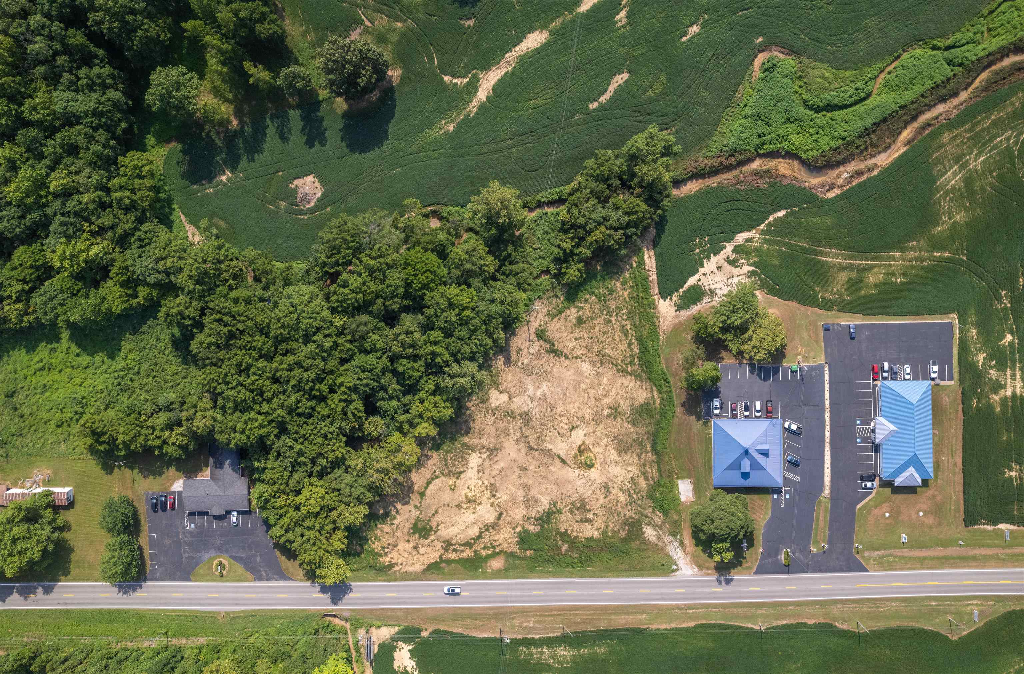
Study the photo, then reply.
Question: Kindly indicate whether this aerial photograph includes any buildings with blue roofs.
Yes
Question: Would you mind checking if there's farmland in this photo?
Yes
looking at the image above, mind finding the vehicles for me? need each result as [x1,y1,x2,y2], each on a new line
[754,401,762,417]
[928,360,938,379]
[870,364,879,380]
[150,495,159,511]
[848,324,856,340]
[730,403,738,417]
[742,400,750,416]
[232,511,239,526]
[444,586,461,594]
[168,495,176,509]
[903,365,910,380]
[786,456,801,465]
[890,364,898,379]
[881,362,890,378]
[783,421,803,435]
[765,400,773,418]
[159,493,168,510]
[861,482,876,489]
[859,474,875,481]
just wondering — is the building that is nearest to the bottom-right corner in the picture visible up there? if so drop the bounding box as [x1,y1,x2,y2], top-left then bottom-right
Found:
[871,380,933,486]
